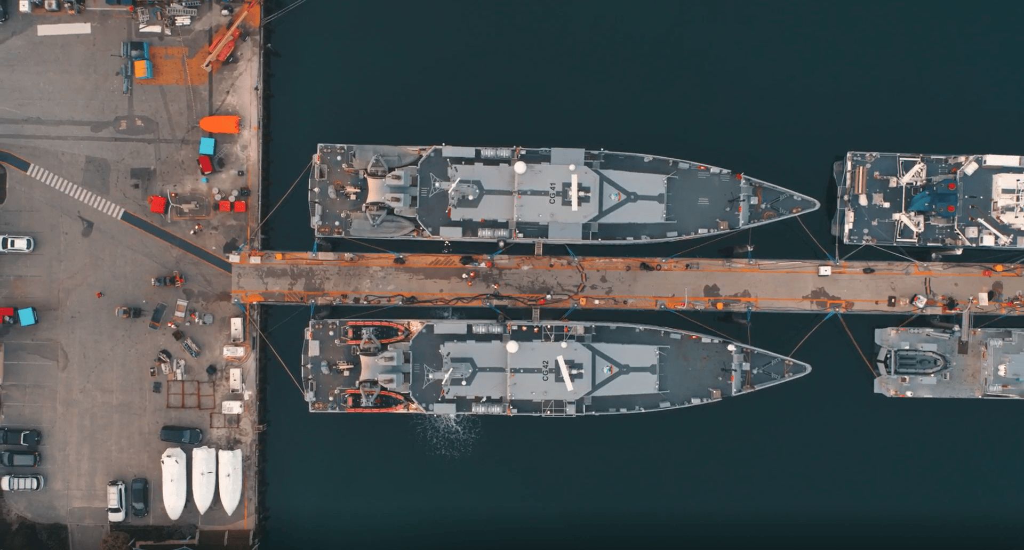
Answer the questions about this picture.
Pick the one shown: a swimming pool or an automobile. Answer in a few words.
automobile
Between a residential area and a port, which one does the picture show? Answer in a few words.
port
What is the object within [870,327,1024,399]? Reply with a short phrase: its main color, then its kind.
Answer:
gray vessel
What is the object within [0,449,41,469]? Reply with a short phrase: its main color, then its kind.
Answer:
gray car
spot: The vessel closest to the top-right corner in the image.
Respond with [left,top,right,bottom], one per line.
[829,152,1024,248]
